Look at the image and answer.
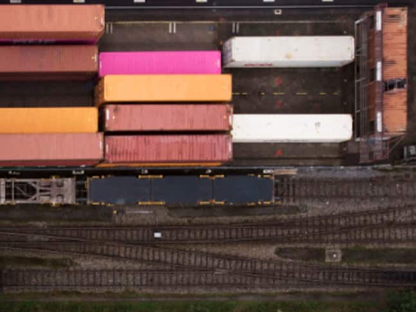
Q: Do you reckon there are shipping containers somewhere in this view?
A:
Yes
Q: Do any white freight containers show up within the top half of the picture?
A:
Yes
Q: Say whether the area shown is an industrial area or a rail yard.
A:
rail yard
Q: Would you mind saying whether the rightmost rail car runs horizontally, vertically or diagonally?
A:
horizontally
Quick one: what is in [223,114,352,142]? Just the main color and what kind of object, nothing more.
white shipping container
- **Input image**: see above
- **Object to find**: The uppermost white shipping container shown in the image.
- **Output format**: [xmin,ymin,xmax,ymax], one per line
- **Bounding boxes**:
[221,36,353,68]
